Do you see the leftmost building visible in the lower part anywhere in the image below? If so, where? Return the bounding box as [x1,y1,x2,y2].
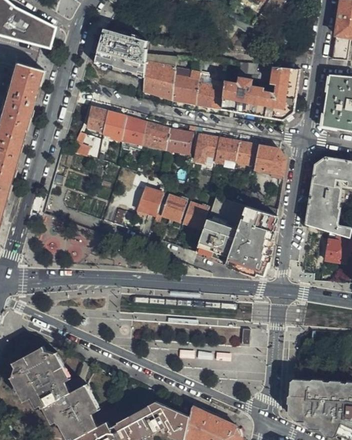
[8,348,72,408]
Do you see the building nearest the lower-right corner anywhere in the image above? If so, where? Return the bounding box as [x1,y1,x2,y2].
[285,382,352,440]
